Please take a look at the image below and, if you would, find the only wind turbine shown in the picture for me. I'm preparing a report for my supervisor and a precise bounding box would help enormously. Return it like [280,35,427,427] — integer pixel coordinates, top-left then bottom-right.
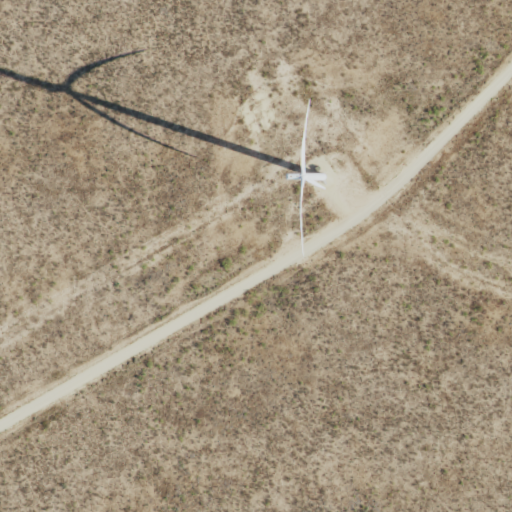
[287,97,330,256]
